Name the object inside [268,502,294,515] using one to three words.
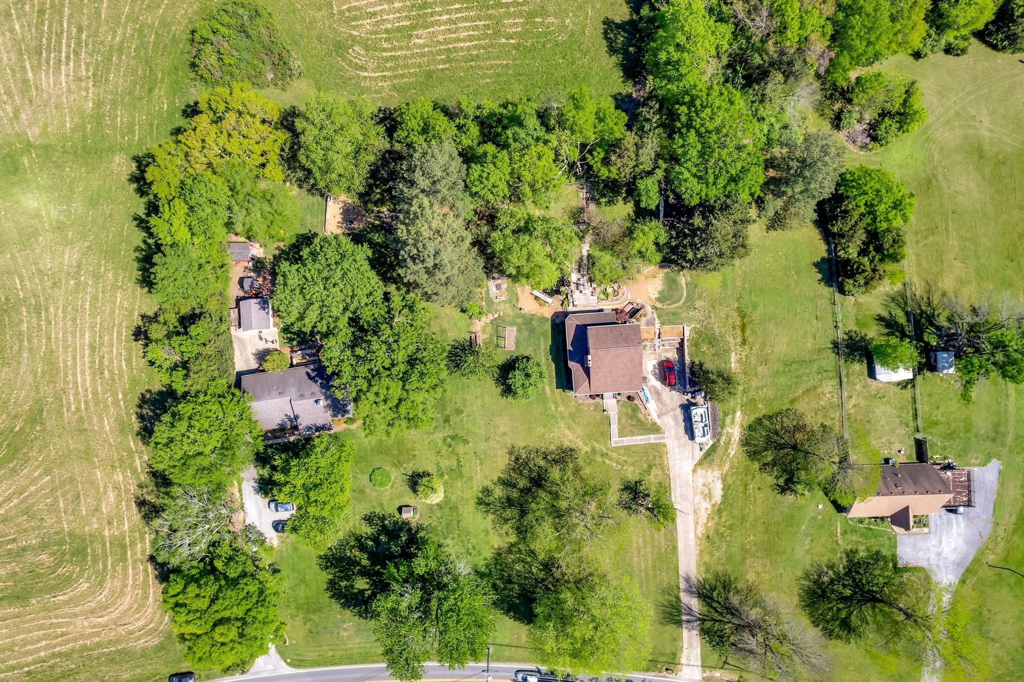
vehicle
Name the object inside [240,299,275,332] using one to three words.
building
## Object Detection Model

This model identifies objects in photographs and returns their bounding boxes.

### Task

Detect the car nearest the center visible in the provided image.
[663,360,678,387]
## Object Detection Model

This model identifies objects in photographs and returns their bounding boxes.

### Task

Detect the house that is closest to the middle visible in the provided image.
[566,311,643,395]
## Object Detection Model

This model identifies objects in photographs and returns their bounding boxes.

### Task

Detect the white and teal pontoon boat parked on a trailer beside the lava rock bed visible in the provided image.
[692,404,711,444]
